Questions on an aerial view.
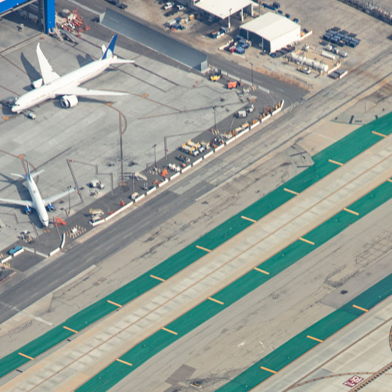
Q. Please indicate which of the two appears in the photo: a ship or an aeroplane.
aeroplane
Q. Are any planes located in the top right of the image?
No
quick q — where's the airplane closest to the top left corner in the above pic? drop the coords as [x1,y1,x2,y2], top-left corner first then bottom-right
[13,33,134,115]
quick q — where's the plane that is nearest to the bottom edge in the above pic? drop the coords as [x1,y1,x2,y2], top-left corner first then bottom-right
[0,158,76,227]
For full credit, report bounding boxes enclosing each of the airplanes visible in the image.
[0,158,76,227]
[13,33,134,115]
